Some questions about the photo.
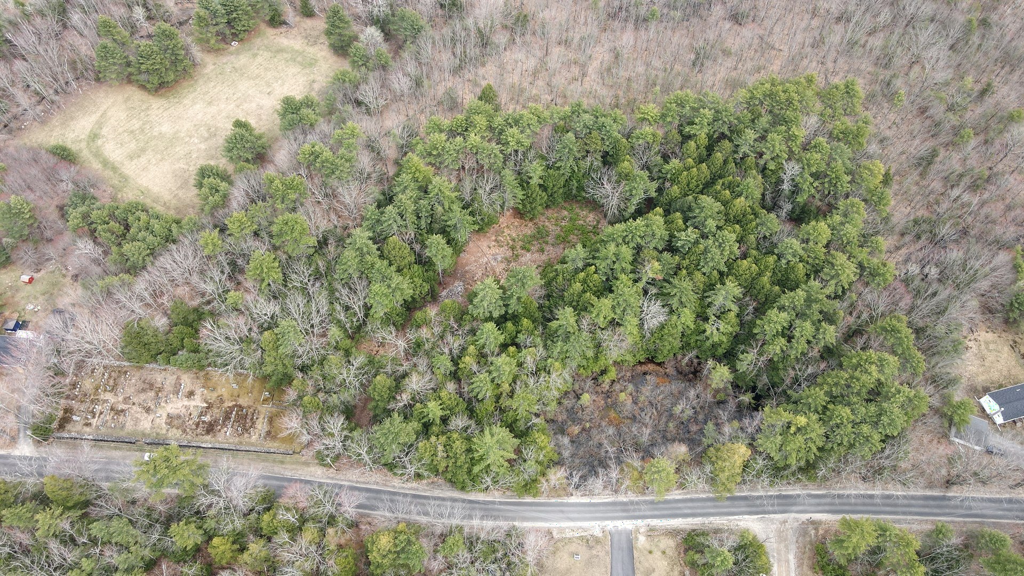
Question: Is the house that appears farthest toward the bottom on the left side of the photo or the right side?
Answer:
right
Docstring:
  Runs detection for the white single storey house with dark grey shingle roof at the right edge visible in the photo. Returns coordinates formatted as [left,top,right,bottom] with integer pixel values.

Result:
[980,379,1024,424]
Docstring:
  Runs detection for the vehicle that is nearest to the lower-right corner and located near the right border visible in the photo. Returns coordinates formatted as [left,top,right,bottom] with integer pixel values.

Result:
[984,444,1006,458]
